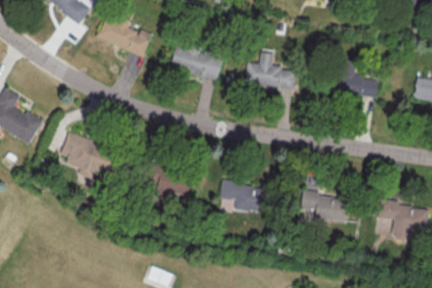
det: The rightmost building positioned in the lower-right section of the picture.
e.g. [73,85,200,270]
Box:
[376,200,430,244]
